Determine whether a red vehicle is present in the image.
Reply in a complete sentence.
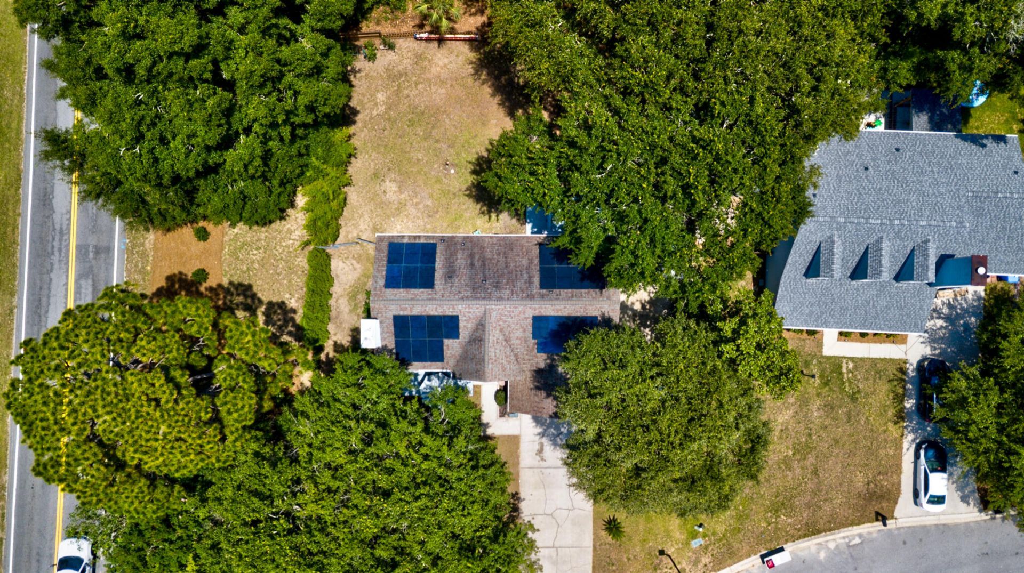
No, no red vehicle is visible in the view.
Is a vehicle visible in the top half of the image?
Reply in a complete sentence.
No, looking in the top half of the image, there is no vehicle.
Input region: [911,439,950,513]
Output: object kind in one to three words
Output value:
car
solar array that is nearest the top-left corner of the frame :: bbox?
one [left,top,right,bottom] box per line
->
[385,242,437,288]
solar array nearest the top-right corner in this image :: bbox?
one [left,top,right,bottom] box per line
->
[539,243,606,289]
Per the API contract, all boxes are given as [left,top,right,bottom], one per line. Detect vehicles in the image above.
[916,355,950,422]
[911,439,950,513]
[57,534,96,573]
